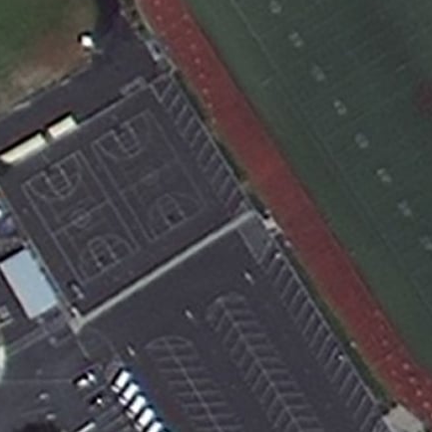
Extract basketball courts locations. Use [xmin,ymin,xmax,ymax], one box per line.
[89,110,207,243]
[18,150,141,287]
